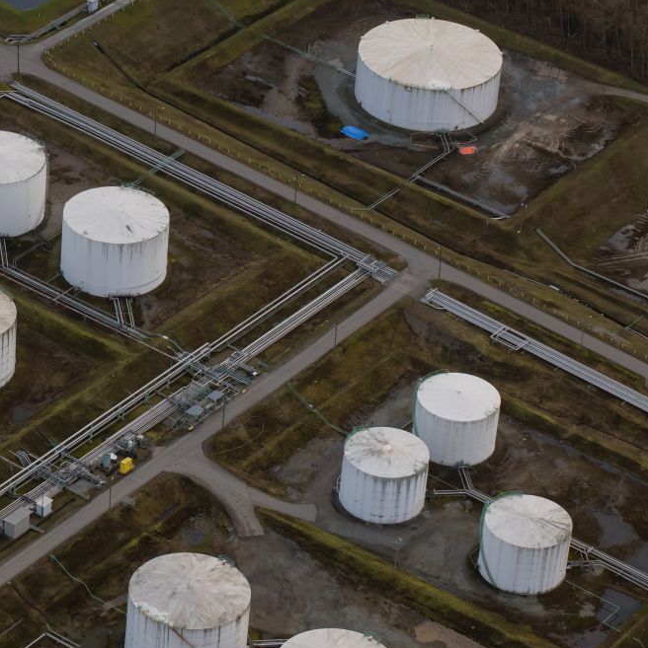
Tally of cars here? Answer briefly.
zero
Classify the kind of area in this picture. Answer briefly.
industrial area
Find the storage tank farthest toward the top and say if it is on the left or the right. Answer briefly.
right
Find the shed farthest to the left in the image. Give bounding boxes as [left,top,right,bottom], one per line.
[2,507,31,540]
